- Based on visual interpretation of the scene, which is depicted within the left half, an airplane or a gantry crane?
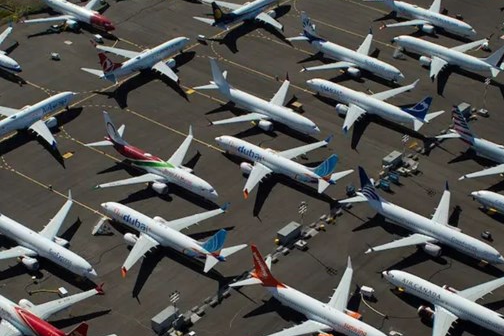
airplane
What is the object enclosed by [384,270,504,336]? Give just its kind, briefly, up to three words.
airplane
